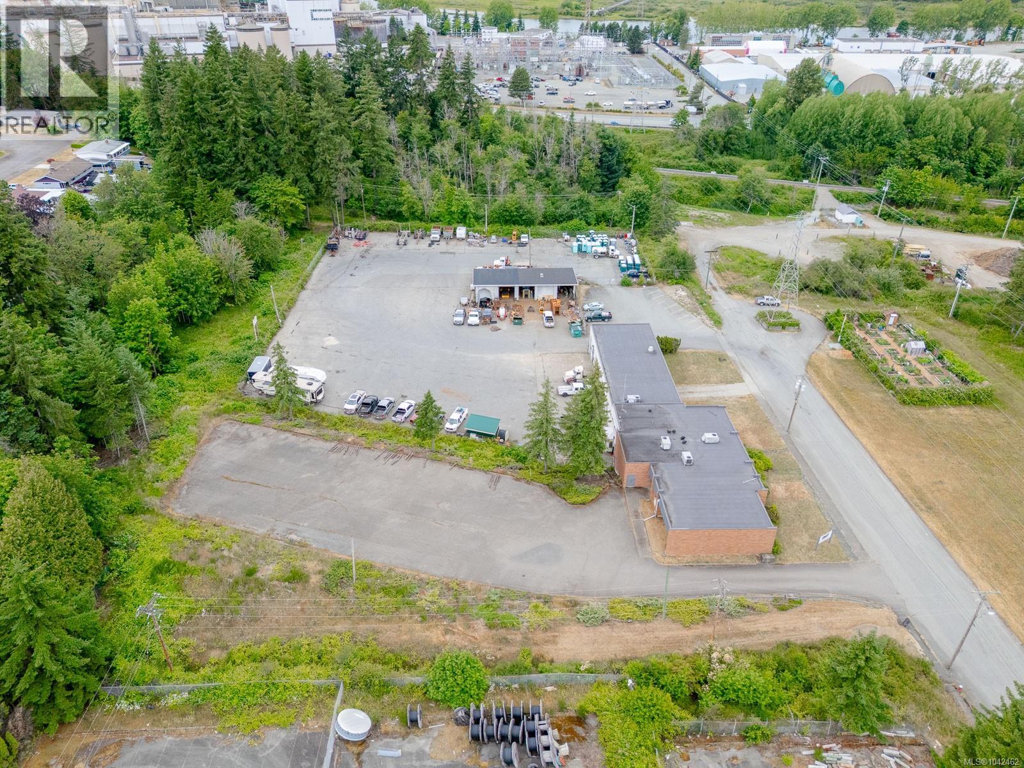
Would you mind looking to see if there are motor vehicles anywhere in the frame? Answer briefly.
Yes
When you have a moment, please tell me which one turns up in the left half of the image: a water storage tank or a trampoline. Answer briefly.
water storage tank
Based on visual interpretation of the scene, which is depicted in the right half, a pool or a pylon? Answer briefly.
pylon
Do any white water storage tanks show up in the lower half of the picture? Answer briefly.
Yes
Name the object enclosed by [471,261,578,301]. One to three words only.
shed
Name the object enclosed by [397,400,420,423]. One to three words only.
truck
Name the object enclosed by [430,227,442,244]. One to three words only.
vehicle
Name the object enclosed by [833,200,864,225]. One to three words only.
building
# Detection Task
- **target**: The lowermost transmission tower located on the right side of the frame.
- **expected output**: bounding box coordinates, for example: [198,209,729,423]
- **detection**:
[761,208,818,326]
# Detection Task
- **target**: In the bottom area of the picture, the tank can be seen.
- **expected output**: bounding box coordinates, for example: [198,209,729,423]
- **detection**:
[334,714,371,752]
